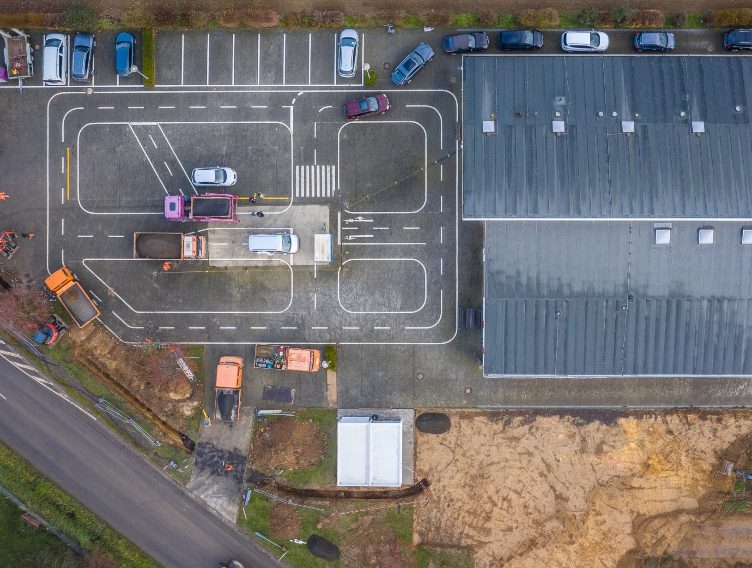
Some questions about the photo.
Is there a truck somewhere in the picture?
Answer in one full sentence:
Yes, the image includes a truck.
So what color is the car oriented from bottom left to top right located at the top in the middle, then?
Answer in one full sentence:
In this view, the car oriented from bottom left to top right located at the top in the middle is blue.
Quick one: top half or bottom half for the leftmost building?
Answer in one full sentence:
Seen from above, the leftmost building lies in the bottom half of the view.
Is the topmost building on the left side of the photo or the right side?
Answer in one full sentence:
The topmost building sits on the right side.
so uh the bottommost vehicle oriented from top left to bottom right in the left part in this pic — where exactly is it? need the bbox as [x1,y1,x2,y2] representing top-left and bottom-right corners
[37,262,102,331]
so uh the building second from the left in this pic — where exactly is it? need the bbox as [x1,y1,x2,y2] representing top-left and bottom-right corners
[370,416,403,486]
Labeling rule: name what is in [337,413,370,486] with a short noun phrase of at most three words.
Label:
building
